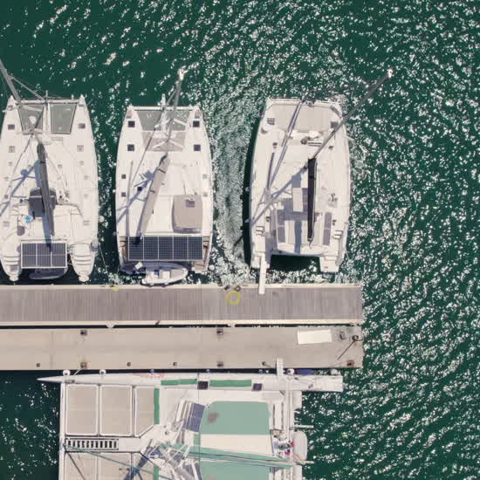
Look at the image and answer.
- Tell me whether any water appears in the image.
Yes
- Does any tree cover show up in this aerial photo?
No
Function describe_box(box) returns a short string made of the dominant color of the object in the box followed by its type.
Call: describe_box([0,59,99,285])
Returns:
white boat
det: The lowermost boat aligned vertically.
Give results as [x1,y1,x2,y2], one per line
[296,431,308,459]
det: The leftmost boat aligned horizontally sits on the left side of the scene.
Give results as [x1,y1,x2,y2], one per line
[31,267,68,281]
